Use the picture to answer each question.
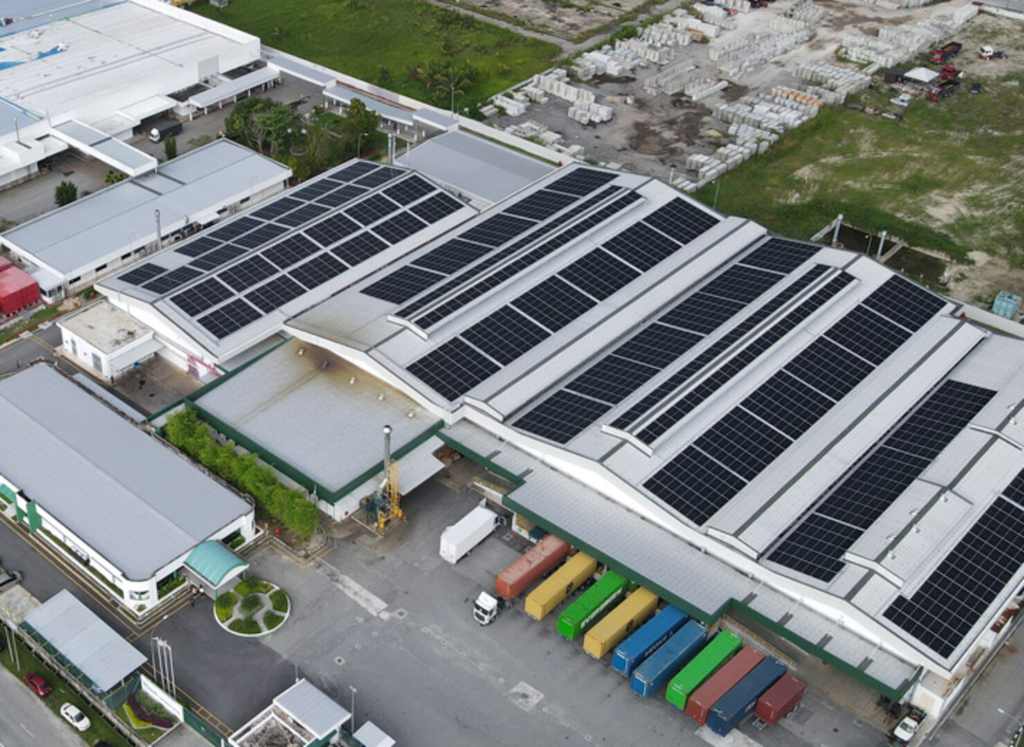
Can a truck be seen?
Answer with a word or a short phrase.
Yes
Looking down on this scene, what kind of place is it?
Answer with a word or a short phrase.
industrial area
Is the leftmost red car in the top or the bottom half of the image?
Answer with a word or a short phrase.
bottom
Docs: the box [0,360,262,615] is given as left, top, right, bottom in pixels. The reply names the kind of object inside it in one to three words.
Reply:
building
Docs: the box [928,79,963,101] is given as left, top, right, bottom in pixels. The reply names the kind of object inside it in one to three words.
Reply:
truck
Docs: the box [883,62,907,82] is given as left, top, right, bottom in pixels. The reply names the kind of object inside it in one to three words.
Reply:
shed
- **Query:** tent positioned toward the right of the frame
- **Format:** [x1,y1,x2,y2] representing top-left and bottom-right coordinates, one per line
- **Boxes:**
[901,65,939,90]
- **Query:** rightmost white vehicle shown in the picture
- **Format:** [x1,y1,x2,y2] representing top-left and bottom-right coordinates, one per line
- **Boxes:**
[982,44,1007,62]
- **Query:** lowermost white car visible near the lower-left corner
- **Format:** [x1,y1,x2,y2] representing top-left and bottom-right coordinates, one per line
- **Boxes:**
[61,702,93,734]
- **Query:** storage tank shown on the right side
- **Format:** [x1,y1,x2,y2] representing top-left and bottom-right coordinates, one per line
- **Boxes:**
[993,286,1024,319]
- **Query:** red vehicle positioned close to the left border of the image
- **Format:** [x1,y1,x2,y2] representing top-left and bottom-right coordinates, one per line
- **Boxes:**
[24,671,55,700]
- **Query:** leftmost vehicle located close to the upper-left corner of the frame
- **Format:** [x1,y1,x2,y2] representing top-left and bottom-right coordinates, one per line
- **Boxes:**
[147,115,185,141]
